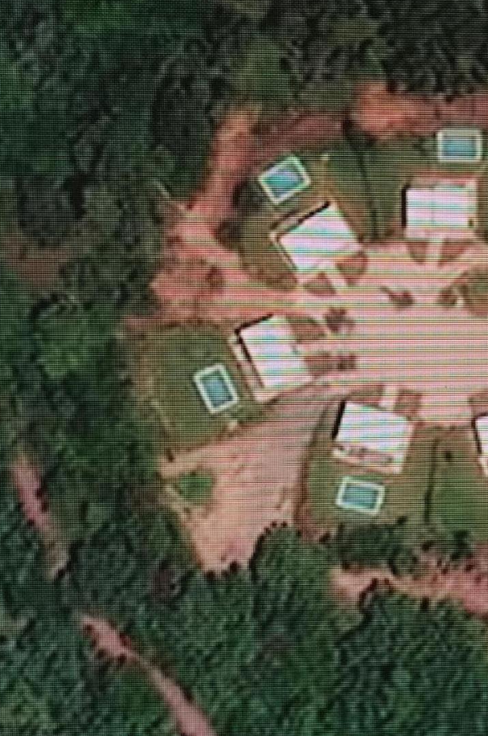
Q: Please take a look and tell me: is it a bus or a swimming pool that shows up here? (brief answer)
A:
swimming pool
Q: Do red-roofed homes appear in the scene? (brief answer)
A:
No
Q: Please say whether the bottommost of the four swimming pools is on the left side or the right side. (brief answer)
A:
right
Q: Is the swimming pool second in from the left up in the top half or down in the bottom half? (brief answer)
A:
top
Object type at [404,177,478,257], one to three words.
house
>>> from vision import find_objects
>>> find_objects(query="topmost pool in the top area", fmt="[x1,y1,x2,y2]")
[438,129,481,163]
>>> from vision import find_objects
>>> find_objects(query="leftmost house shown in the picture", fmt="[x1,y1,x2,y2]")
[233,311,315,396]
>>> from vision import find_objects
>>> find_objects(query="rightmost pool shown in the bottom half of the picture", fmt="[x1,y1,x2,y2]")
[336,475,385,515]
